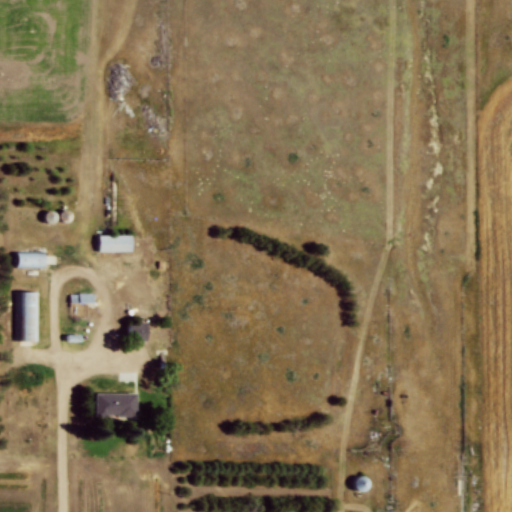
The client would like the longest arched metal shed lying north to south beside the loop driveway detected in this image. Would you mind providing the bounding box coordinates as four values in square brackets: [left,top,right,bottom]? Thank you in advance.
[21,291,39,342]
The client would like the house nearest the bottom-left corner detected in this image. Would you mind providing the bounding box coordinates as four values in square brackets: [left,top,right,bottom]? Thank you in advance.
[96,394,139,420]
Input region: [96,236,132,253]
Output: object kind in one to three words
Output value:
shed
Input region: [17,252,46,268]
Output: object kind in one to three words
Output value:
shed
